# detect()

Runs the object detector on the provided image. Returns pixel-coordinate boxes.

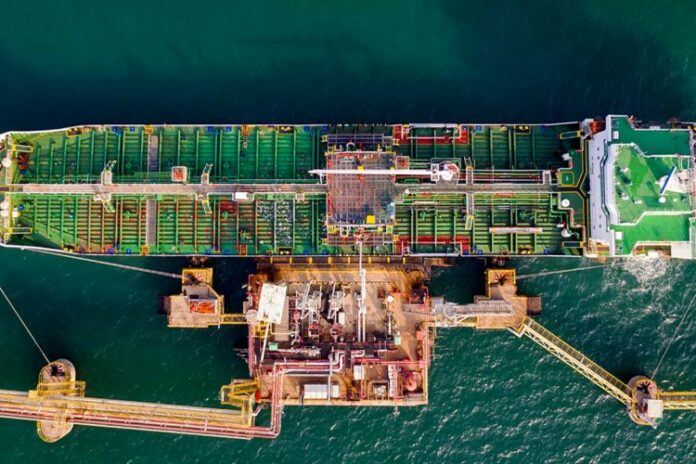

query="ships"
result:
[0,115,696,257]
